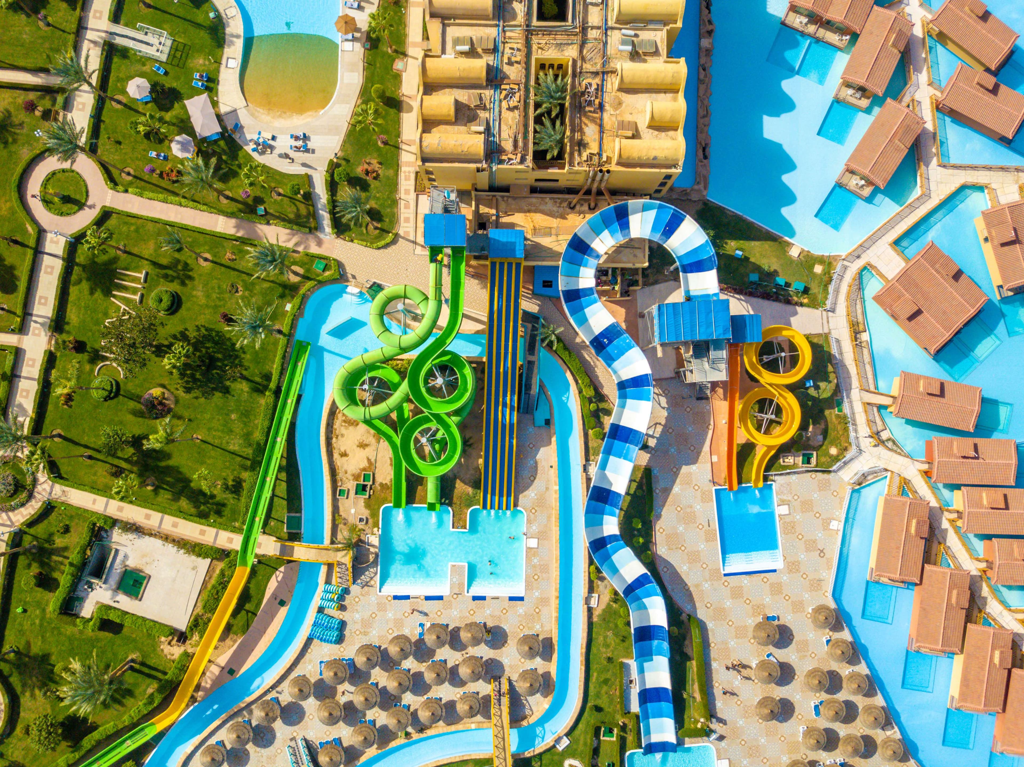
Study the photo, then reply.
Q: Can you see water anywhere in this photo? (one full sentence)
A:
Yes, there's water in this view.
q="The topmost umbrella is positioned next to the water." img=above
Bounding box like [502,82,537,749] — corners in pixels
[335,13,357,36]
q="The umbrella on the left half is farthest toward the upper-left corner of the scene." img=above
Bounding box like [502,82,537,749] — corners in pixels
[126,76,153,100]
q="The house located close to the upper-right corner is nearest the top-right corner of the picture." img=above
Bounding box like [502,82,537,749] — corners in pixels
[925,0,1021,75]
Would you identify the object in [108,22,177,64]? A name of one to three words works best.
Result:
building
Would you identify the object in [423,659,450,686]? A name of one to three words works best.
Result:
umbrella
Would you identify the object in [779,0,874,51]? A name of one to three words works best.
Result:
house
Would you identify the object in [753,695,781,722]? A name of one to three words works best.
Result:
umbrella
